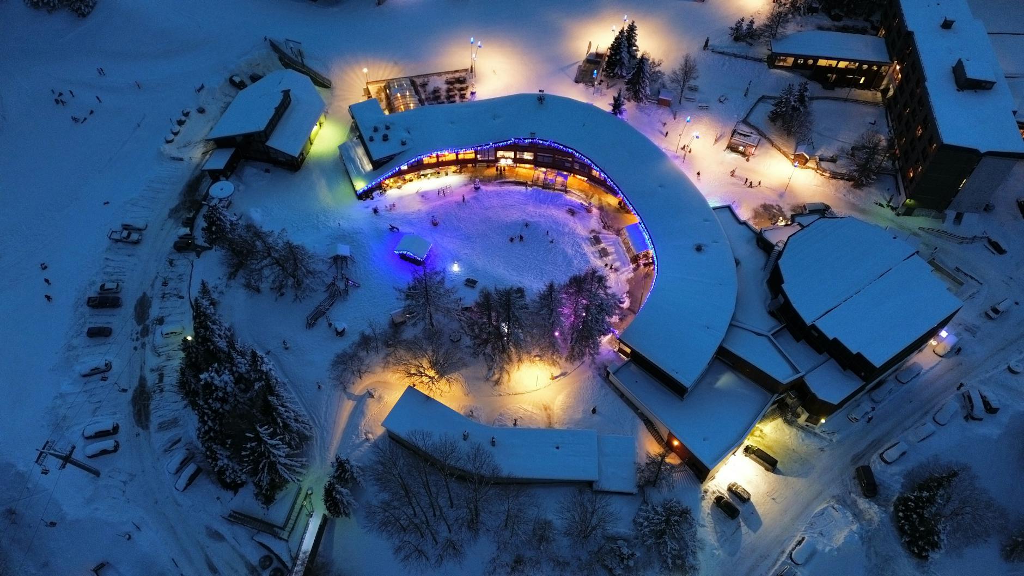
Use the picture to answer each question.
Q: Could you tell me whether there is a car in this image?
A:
Yes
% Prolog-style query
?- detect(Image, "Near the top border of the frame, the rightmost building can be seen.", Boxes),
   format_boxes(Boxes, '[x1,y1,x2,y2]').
[869,0,1024,210]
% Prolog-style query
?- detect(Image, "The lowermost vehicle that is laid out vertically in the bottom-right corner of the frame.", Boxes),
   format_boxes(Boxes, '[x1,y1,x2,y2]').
[857,458,881,499]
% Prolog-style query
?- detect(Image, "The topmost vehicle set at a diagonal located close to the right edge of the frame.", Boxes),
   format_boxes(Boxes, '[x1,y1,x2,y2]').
[987,236,1009,256]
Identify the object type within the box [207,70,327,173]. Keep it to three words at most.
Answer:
house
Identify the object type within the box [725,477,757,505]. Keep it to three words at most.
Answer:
car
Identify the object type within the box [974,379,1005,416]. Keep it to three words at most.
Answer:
van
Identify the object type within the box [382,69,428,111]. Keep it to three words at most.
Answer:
greenhouse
